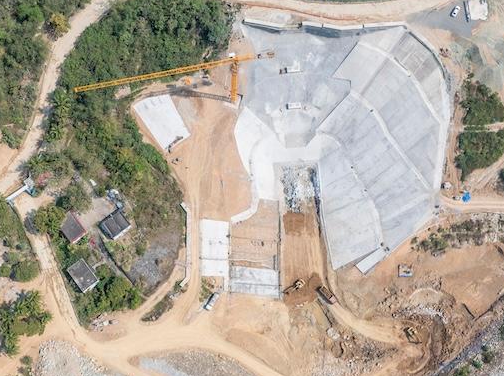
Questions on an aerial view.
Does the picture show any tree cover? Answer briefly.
Yes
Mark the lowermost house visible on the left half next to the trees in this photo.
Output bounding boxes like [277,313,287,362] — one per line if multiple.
[66,258,99,292]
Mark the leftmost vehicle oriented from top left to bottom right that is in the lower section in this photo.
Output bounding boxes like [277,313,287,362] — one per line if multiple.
[317,282,338,303]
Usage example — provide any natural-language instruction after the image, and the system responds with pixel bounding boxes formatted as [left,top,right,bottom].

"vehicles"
[406,324,418,346]
[317,282,338,303]
[449,3,462,18]
[286,278,307,293]
[204,291,218,310]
